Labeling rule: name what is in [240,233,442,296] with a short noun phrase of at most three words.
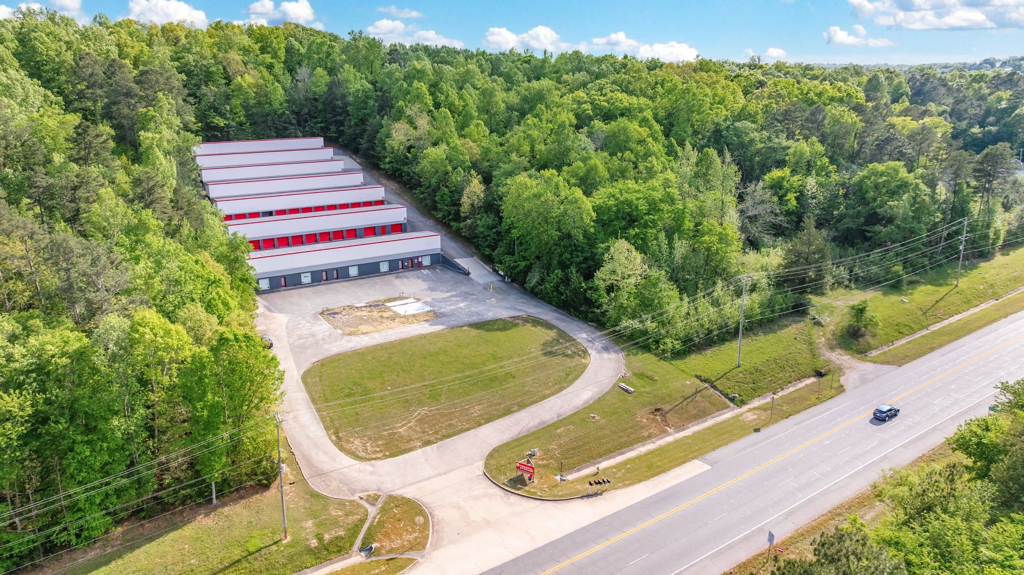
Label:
building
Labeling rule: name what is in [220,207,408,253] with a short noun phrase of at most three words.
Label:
building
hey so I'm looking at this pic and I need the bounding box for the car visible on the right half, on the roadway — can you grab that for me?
[871,402,901,421]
